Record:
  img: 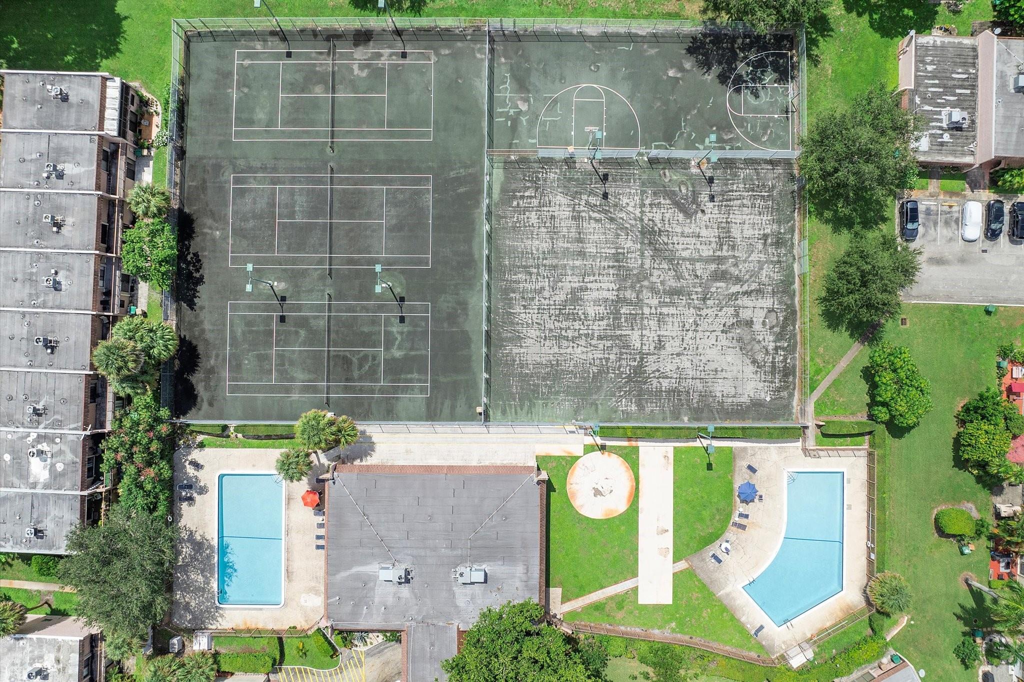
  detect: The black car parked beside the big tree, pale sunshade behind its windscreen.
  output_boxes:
[902,199,924,240]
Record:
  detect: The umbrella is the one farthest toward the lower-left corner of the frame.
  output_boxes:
[301,489,322,508]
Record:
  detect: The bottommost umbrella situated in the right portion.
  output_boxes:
[736,482,757,503]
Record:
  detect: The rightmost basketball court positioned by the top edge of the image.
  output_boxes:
[487,33,796,159]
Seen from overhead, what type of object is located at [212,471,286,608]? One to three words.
swimming pool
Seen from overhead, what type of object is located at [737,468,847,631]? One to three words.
swimming pool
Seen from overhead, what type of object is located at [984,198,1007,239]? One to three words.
car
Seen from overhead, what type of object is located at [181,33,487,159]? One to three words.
tennis court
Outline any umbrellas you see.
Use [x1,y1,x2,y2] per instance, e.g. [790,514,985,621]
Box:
[736,482,757,503]
[301,489,322,508]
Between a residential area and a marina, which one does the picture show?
residential area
